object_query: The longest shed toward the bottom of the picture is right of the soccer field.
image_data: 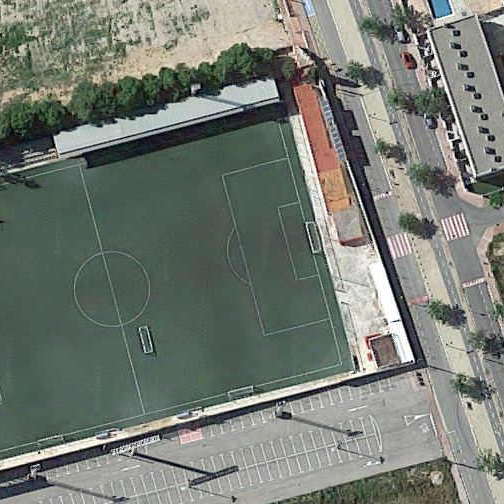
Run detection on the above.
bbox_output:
[369,263,415,366]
